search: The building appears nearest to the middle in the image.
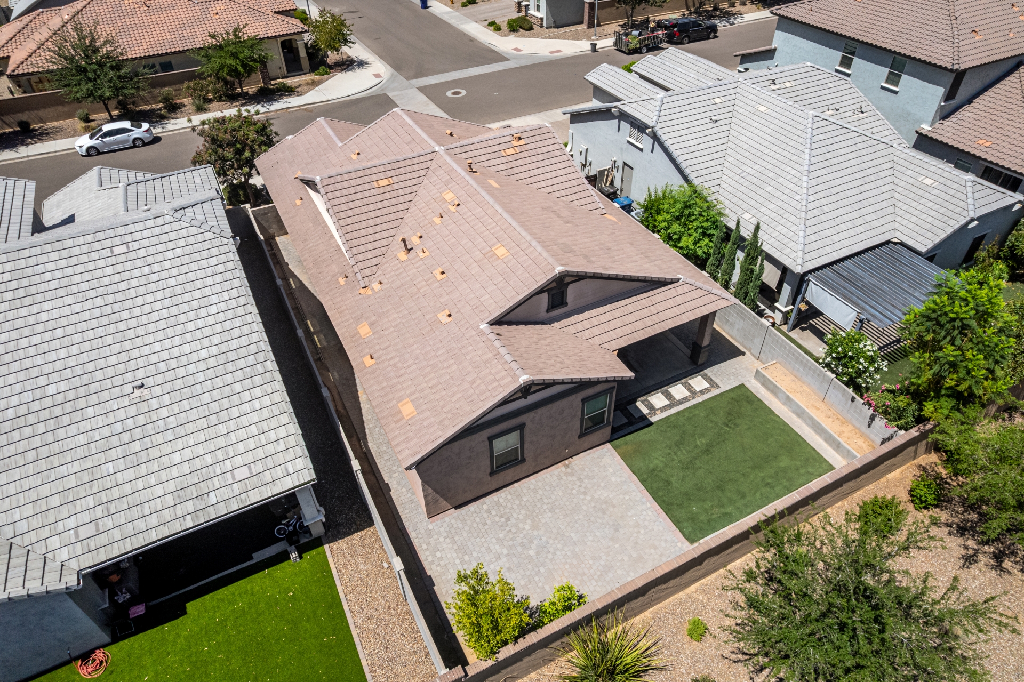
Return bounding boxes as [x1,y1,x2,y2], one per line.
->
[254,105,745,518]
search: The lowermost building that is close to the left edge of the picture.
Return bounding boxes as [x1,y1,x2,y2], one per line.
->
[0,163,328,682]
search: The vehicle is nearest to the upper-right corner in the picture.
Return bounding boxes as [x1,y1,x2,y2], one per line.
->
[658,13,720,44]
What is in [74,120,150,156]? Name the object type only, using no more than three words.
car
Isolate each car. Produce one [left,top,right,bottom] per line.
[74,120,150,156]
[658,13,720,44]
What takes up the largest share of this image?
buildings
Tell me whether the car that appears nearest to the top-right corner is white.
No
